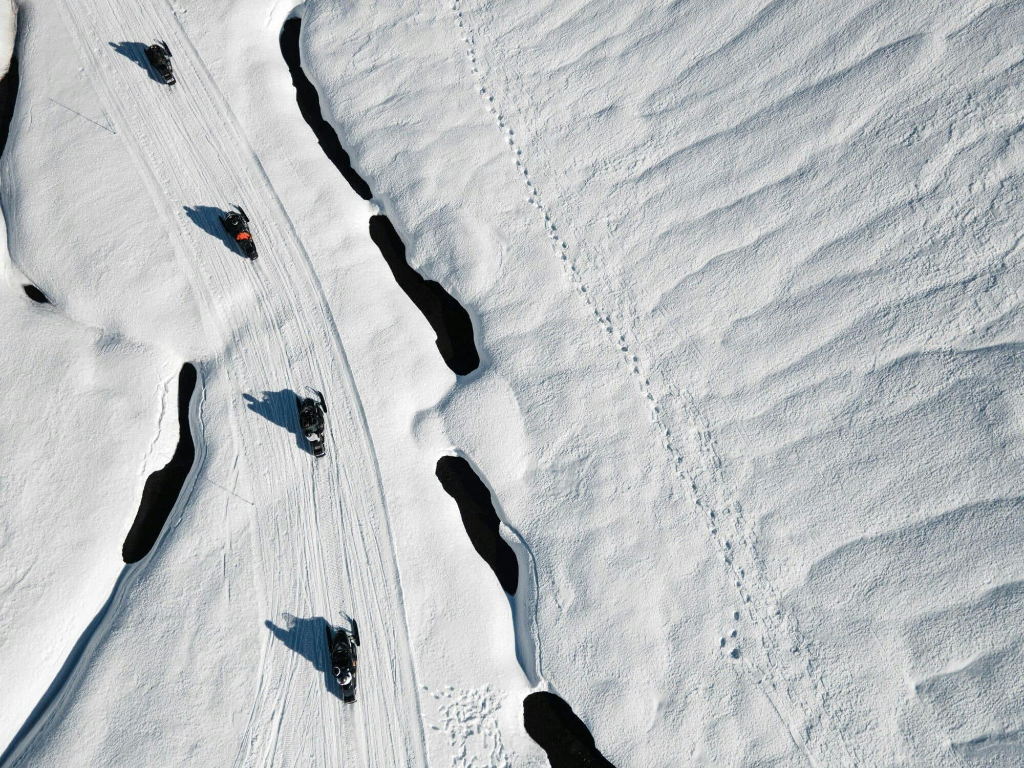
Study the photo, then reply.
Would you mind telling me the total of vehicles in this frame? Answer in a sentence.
There are 4 vehicles in the image.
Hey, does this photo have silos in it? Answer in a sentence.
No, the scene contains no silo.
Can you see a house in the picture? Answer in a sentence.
No, no house is visible in the view.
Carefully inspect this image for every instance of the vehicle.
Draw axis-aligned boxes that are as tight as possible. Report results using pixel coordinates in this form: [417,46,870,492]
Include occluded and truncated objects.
[326,617,363,706]
[216,203,257,258]
[143,40,177,87]
[294,390,329,459]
